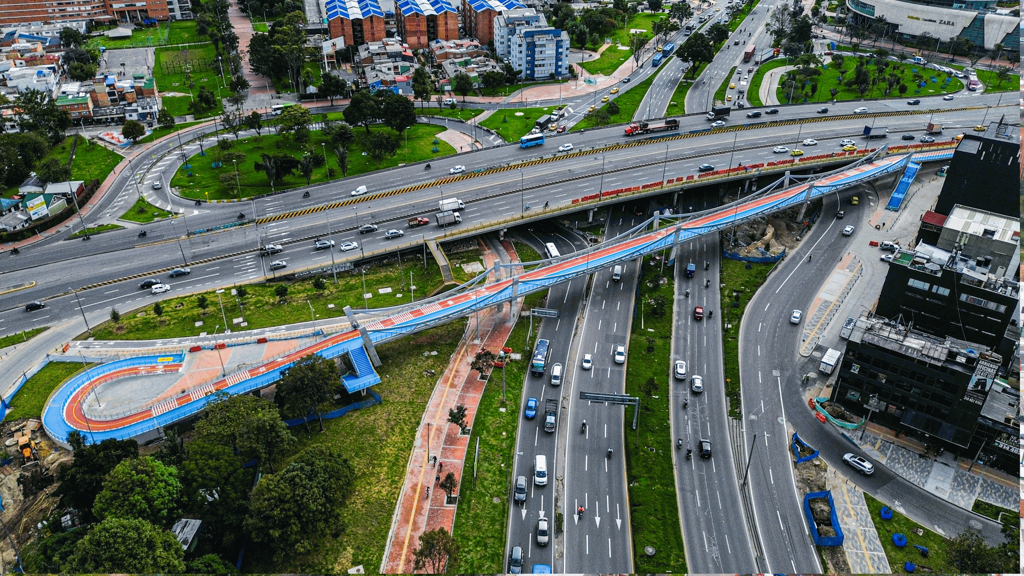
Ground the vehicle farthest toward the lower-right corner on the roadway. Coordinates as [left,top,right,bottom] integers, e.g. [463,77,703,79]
[842,452,877,474]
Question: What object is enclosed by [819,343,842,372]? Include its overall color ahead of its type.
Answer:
white truck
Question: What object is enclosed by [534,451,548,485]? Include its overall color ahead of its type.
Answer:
white vehicle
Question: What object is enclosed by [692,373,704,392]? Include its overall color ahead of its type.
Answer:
white vehicle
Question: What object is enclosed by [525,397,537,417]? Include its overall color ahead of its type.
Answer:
blue vehicle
